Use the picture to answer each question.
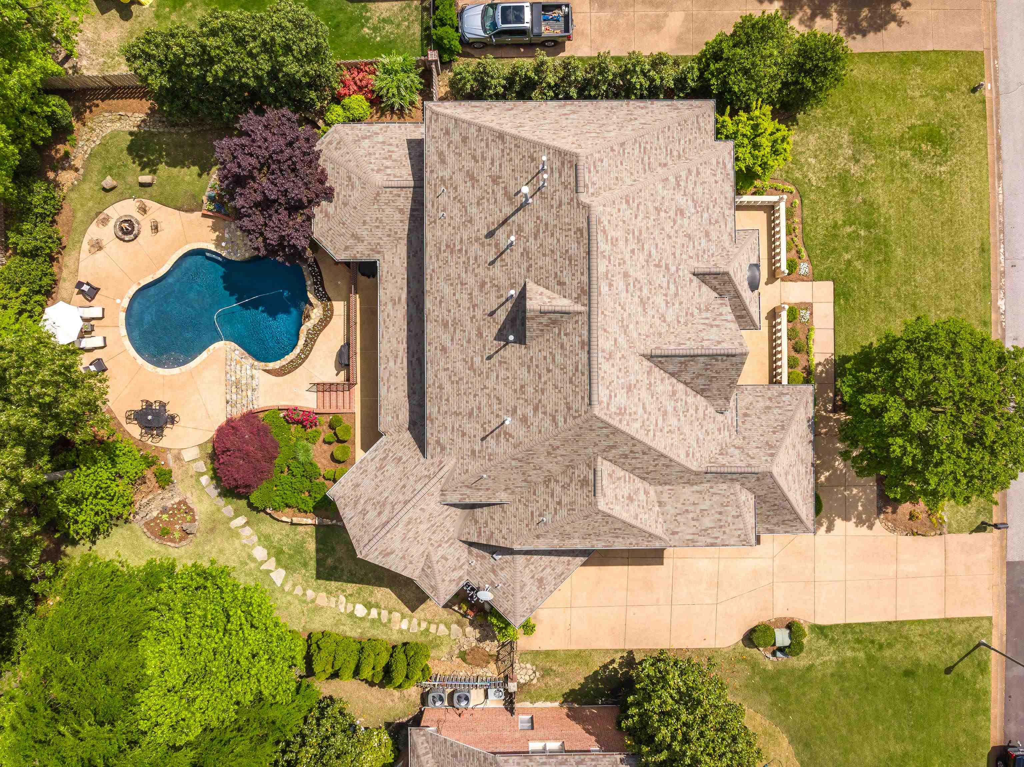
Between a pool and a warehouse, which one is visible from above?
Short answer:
pool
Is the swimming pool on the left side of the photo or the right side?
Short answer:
left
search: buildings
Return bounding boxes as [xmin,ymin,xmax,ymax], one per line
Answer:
[310,97,817,630]
[407,706,694,767]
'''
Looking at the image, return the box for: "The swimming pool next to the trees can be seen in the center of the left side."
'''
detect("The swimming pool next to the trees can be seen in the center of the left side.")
[112,238,323,376]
